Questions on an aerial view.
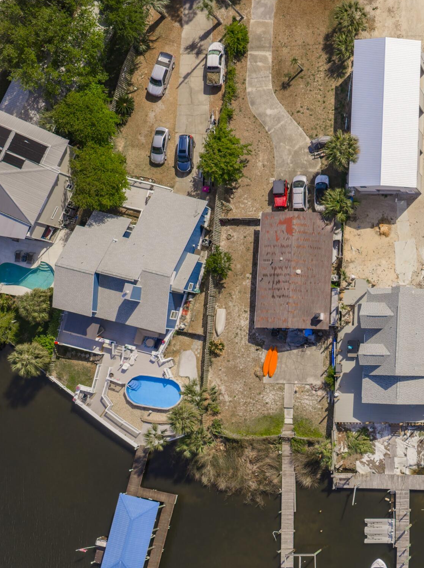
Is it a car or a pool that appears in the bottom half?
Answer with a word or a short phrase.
pool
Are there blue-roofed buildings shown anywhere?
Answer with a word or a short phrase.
Yes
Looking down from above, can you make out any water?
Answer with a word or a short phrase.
Yes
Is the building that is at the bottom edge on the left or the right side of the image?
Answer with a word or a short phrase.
left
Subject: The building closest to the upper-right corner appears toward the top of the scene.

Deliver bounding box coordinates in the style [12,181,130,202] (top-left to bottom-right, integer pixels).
[349,37,424,196]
